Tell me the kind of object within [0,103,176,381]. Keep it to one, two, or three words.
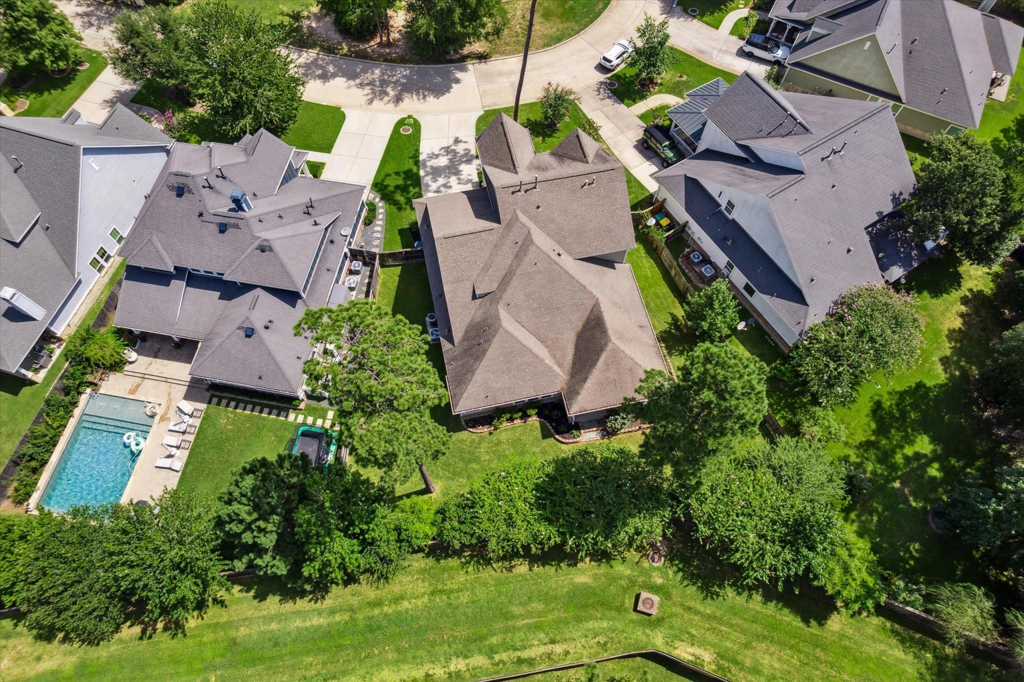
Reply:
house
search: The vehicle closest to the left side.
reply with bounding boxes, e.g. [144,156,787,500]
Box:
[597,36,637,69]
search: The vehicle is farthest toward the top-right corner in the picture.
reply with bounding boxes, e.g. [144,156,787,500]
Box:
[742,27,792,64]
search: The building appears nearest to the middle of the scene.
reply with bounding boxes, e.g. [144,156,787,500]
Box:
[412,112,668,428]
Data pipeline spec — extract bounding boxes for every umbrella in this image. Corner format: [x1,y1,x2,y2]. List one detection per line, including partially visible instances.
[173,408,192,422]
[162,442,182,456]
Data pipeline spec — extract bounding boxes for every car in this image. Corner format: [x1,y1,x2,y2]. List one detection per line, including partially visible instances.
[597,36,637,69]
[742,27,792,64]
[641,119,687,167]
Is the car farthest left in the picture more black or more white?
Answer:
white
